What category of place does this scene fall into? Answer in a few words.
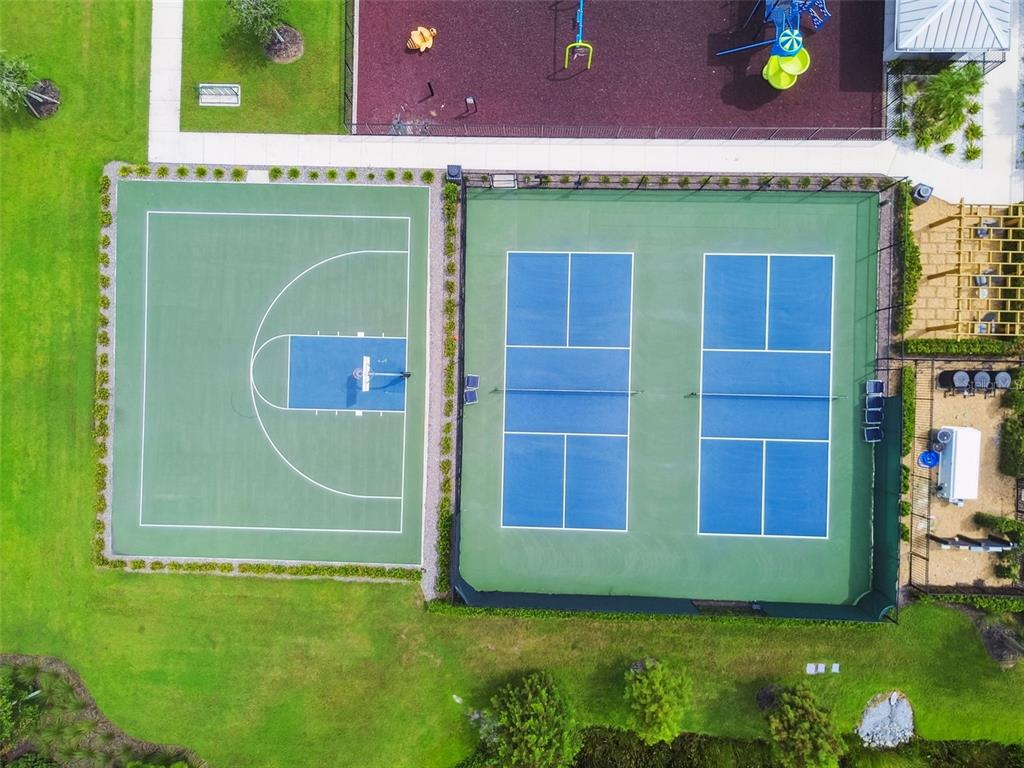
sports ground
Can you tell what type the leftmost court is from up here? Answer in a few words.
basketball court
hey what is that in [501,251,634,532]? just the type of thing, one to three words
sports court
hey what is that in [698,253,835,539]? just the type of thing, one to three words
sports court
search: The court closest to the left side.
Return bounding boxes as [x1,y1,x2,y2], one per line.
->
[110,178,431,567]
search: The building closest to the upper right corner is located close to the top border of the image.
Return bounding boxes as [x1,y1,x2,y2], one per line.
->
[886,0,1011,62]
